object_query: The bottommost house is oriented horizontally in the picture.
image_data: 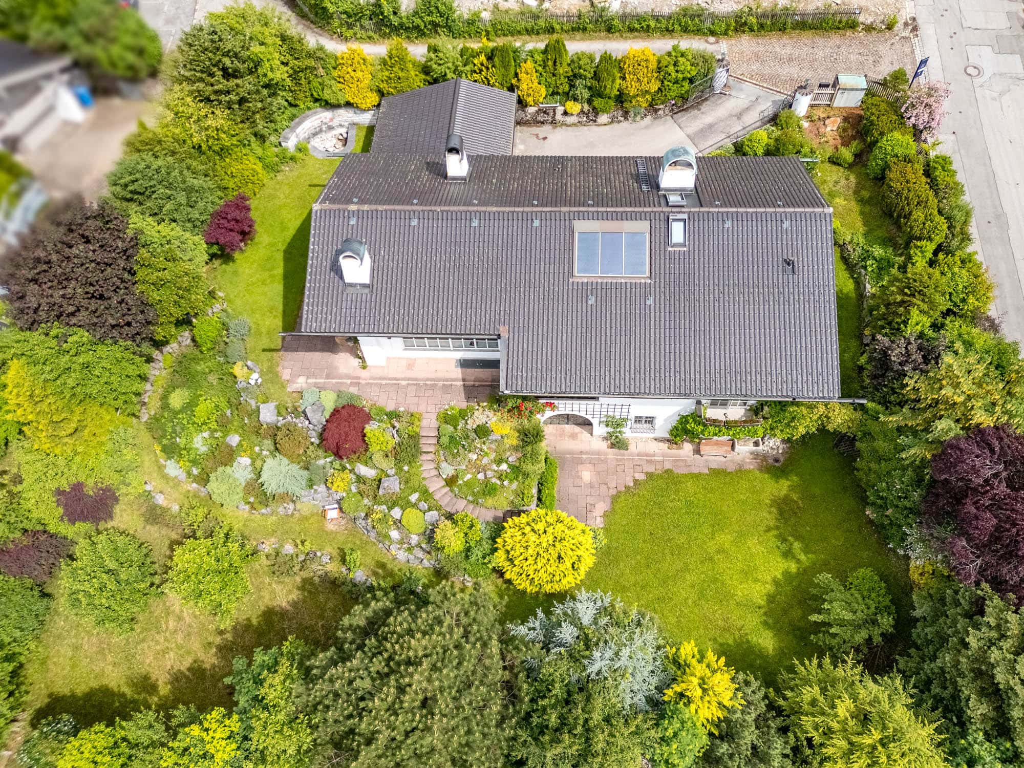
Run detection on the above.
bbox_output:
[281,128,873,443]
